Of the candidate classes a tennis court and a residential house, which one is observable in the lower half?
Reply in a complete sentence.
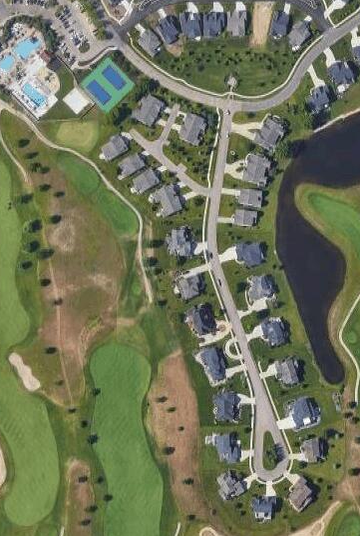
There is a residential house in the lower half.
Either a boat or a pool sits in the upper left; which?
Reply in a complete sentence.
Visible in the upper left is a pool.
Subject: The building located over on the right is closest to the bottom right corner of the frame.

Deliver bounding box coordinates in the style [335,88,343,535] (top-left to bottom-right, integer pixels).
[288,479,314,512]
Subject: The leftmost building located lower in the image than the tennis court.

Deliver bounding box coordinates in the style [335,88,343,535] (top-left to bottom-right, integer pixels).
[102,135,128,160]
